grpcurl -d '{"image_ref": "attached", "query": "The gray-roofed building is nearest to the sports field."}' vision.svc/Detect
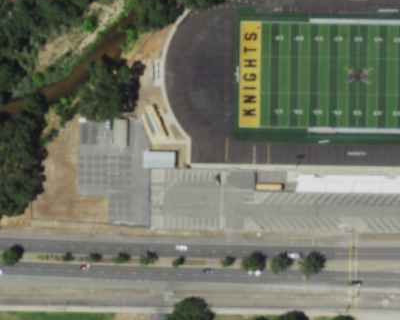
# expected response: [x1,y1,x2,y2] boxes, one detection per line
[228,170,258,190]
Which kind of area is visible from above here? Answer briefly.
sports ground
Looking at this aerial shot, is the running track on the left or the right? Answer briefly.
right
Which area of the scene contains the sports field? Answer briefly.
top right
